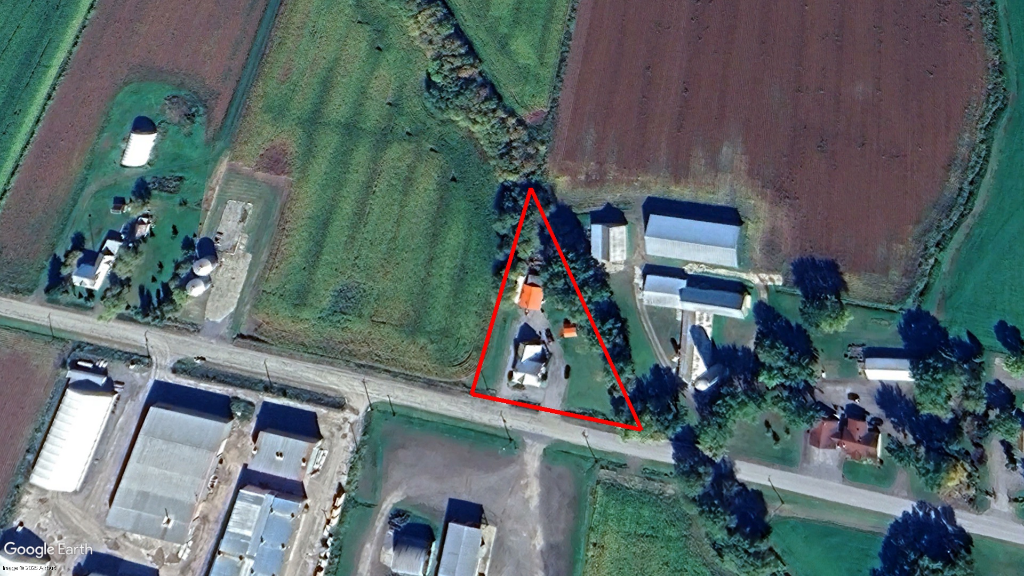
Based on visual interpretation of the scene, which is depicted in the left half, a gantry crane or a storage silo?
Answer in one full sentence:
You can see a storage silo in the left half.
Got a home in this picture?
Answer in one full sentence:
Yes, there's a home down there.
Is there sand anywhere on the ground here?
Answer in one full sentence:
No, there is no sand in the image.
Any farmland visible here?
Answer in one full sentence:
Yes, farmland can be seen from above here.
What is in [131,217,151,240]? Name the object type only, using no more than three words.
building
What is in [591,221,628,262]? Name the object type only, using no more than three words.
shed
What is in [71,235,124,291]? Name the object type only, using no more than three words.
house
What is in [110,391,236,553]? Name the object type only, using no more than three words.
barn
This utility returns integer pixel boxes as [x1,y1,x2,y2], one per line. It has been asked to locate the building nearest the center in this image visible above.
[518,273,546,311]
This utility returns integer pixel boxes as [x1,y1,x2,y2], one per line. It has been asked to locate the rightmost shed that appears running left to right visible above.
[864,357,918,381]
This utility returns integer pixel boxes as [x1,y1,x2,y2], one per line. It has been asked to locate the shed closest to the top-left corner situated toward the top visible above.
[123,128,157,170]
